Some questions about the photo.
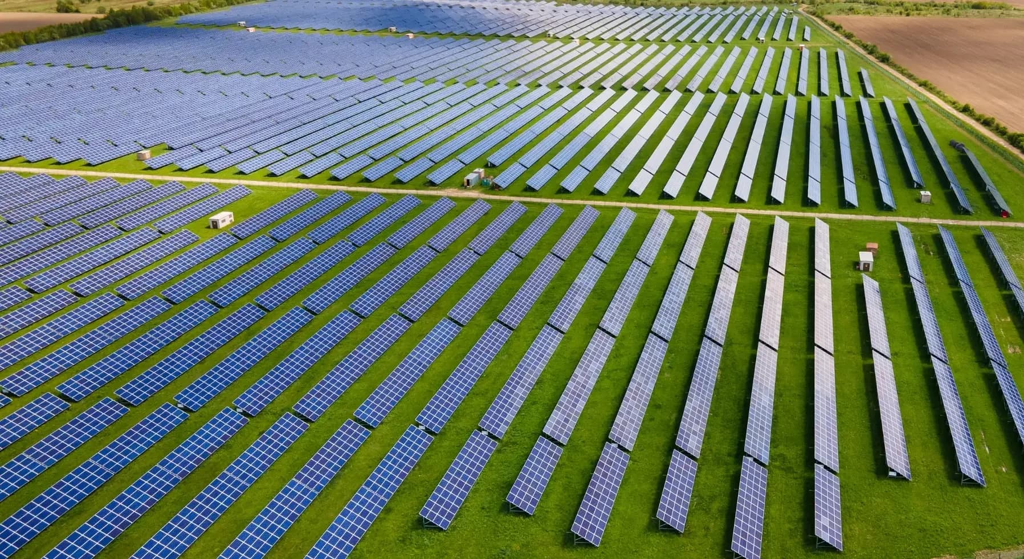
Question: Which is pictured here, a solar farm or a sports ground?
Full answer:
What you see here is a solar farm.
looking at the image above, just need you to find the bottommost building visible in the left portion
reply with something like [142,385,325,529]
[209,211,235,229]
